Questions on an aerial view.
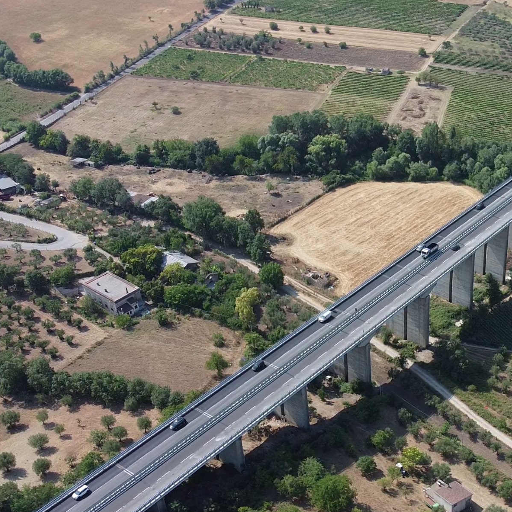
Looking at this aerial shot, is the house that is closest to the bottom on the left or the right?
right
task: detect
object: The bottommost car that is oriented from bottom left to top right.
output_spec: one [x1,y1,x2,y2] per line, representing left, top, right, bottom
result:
[72,486,89,500]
